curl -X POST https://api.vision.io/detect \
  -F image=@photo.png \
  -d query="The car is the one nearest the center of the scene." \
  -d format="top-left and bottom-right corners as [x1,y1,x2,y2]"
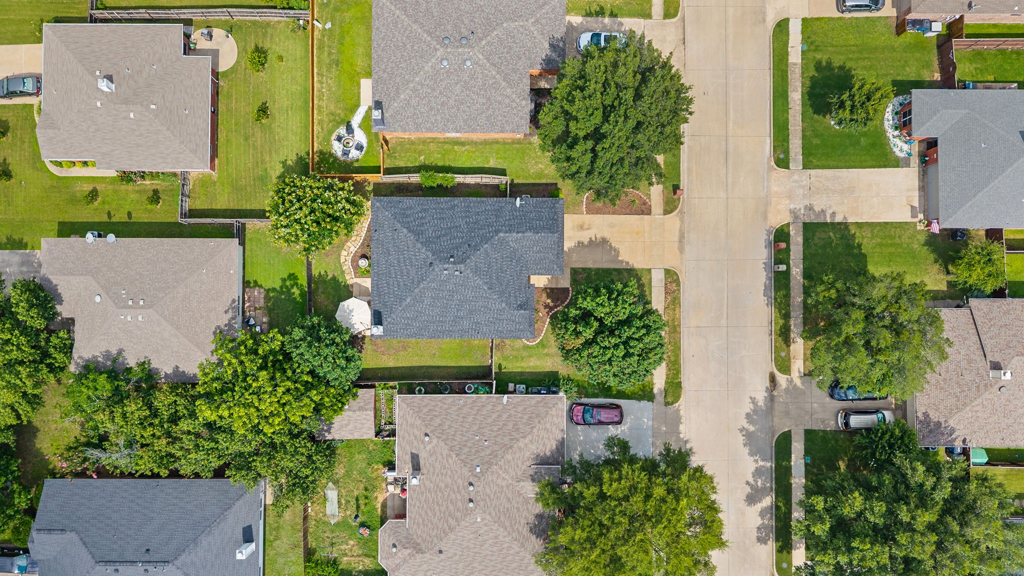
[569,403,624,429]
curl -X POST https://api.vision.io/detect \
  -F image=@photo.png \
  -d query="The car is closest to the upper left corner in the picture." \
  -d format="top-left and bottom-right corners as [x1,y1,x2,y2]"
[0,73,41,99]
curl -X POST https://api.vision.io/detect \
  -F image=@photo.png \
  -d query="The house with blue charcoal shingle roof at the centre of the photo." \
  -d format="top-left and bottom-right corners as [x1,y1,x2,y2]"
[370,196,565,340]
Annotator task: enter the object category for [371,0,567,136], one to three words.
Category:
house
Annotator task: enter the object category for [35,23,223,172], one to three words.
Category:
house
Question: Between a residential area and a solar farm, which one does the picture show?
residential area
